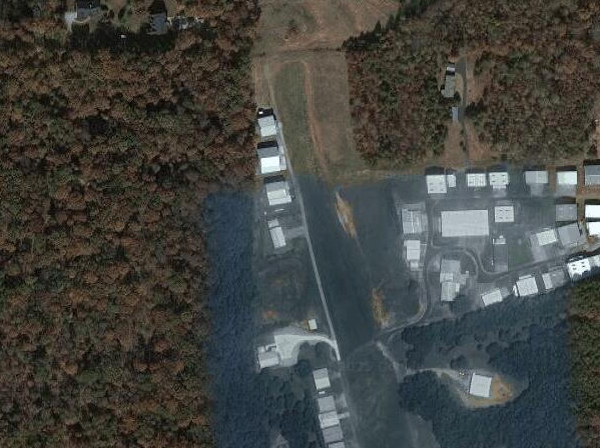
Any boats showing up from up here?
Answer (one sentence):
No, the frame has no boat in it.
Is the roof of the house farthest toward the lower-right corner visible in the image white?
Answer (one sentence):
Yes, the roof of the house farthest toward the lower-right corner is white.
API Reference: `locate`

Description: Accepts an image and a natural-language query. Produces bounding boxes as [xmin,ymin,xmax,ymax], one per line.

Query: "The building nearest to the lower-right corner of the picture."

[470,373,492,397]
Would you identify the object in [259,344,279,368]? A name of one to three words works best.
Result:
house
